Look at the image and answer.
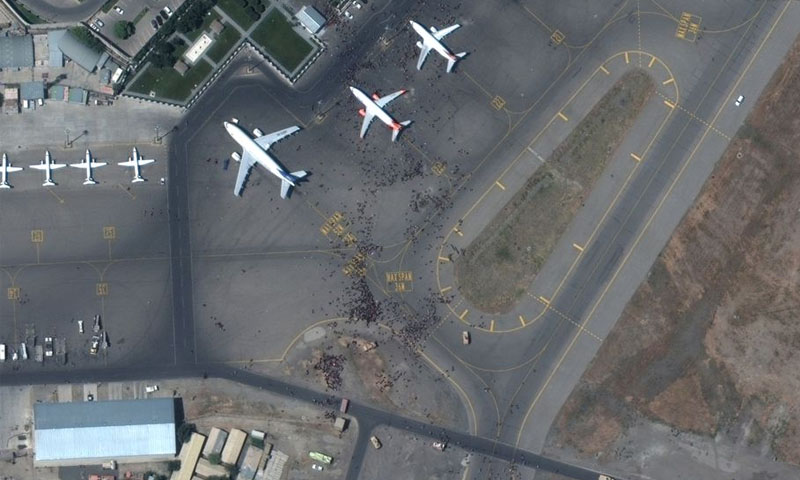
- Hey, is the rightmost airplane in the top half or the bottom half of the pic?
top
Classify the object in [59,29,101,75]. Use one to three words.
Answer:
building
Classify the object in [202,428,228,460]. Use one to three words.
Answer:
house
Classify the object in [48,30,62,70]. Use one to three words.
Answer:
shed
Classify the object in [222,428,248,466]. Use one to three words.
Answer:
house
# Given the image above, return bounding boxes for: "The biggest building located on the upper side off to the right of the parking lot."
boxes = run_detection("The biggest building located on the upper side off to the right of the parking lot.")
[299,5,327,35]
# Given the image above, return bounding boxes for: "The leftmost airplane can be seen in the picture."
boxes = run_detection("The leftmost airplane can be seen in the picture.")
[0,153,23,185]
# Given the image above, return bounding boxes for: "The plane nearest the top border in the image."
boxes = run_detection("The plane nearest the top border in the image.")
[409,22,466,69]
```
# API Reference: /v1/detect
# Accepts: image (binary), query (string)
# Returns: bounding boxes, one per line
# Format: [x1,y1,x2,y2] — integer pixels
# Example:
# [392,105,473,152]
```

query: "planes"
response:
[70,150,107,182]
[117,149,155,180]
[223,124,308,197]
[0,153,23,185]
[30,152,66,183]
[409,22,466,69]
[350,88,410,138]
